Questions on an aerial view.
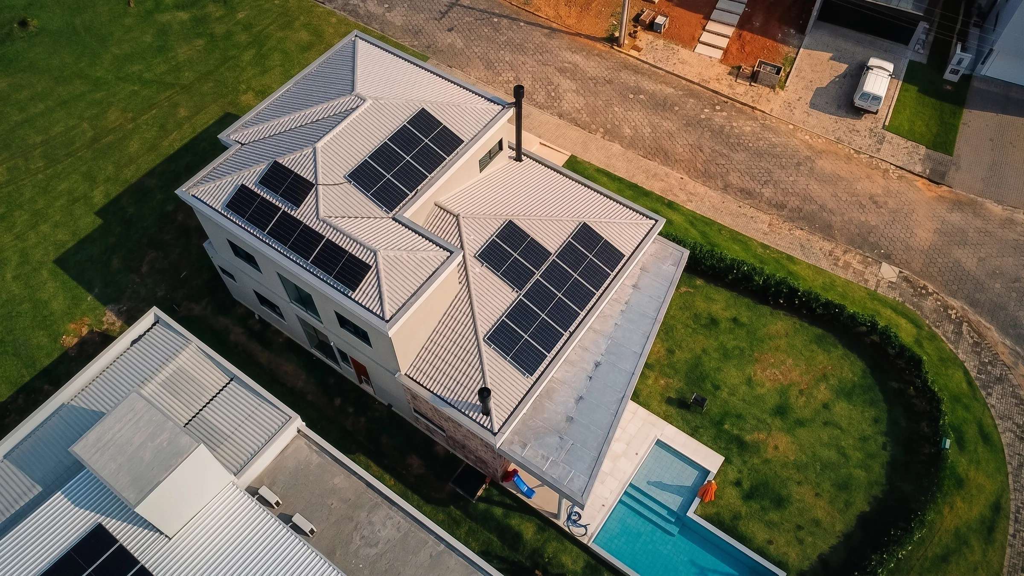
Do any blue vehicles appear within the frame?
No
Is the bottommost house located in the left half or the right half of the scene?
left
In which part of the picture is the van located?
top right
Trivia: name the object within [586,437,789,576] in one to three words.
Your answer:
swimming pool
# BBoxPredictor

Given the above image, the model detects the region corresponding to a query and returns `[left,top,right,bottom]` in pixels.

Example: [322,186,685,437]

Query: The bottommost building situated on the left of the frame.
[0,305,507,576]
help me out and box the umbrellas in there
[695,476,720,504]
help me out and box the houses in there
[801,0,943,48]
[974,0,1024,87]
[174,29,690,522]
[0,305,507,576]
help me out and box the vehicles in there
[850,59,900,118]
